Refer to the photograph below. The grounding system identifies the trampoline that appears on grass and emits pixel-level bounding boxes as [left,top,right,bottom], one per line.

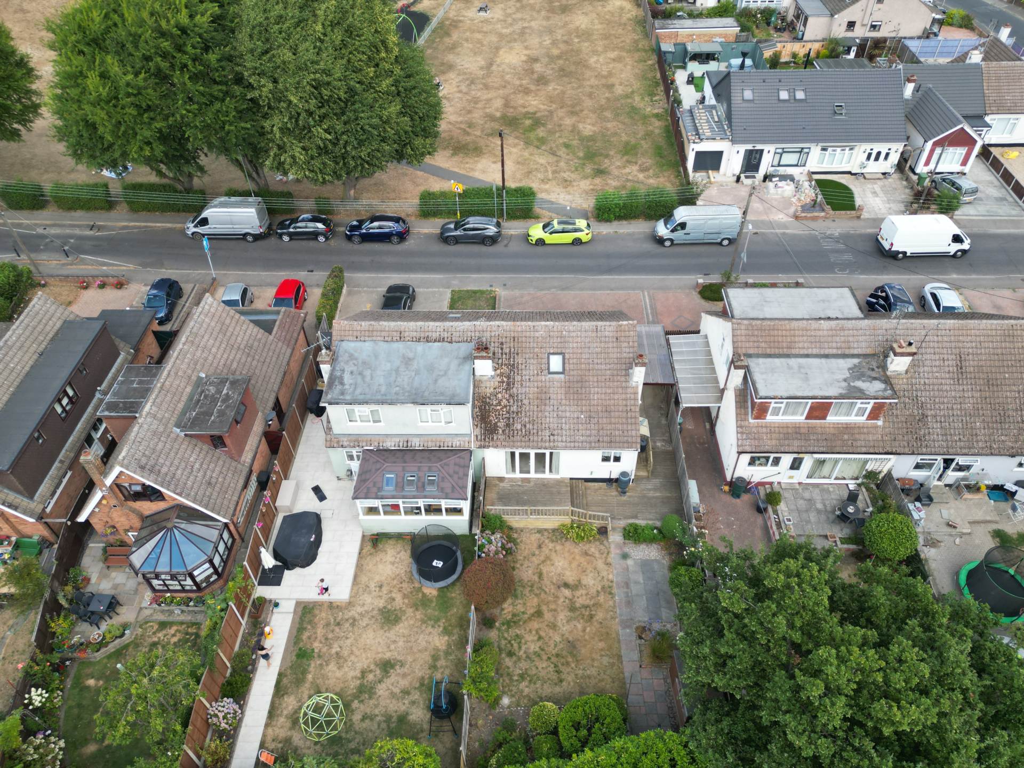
[407,522,463,588]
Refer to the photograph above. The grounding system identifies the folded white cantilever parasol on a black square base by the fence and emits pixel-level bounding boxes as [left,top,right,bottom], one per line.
[256,548,285,587]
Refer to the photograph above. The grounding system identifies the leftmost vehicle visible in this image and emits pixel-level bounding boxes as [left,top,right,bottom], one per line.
[138,278,191,331]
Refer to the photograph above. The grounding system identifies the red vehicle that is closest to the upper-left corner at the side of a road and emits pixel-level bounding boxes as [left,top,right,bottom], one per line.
[265,281,307,312]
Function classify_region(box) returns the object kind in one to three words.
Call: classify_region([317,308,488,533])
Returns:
house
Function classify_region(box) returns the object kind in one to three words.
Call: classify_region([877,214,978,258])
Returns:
van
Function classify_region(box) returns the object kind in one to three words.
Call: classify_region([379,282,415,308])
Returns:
car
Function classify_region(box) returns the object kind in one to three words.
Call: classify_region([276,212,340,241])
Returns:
car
